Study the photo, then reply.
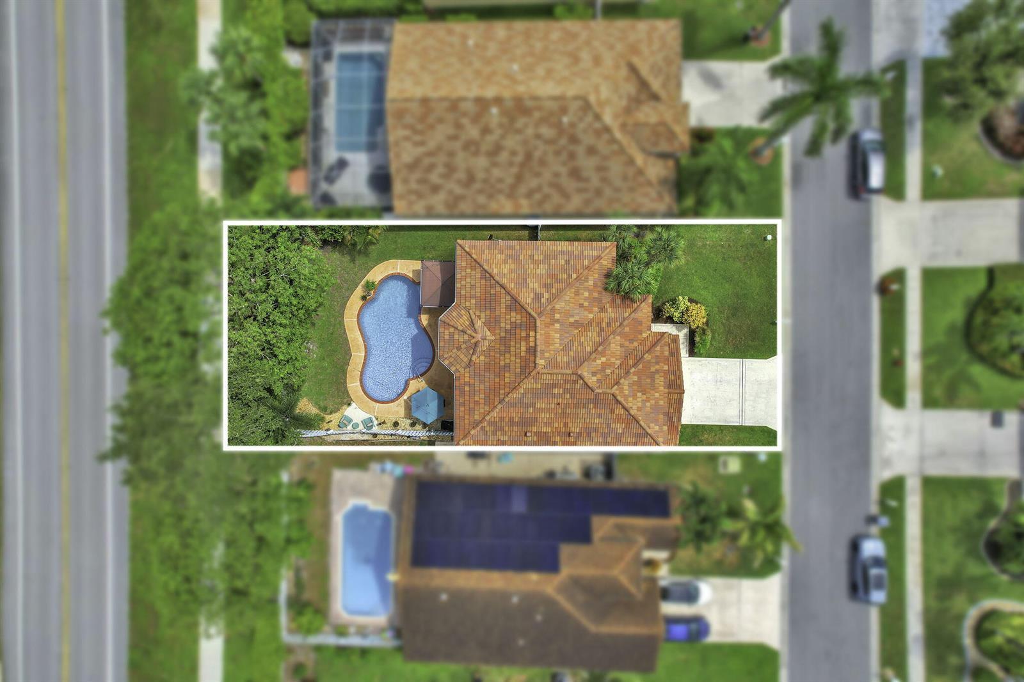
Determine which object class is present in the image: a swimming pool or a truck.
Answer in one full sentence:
The image shows a swimming pool.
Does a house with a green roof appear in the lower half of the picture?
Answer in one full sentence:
No, in the lower half of the picture there is no house with a green roof.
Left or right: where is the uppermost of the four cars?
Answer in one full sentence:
It is on the right.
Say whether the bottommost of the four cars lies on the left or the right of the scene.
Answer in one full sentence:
The bottommost of the four cars appears in the right half of the scene.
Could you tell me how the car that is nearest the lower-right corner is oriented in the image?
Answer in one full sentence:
In this picture, the car that is nearest the lower-right corner is oriented from top to bottom.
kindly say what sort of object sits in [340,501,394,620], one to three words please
swimming pool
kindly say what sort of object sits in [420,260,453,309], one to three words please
gazebo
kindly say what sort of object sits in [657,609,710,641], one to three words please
car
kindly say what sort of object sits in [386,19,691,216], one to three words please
house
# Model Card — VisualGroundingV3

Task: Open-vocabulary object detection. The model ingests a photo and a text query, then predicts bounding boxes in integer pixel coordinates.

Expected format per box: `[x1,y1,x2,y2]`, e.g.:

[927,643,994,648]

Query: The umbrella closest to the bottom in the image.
[411,386,445,425]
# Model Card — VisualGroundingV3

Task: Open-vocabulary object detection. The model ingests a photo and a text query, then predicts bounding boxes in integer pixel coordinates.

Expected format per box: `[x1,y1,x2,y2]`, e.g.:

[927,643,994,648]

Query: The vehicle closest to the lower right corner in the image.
[850,532,884,601]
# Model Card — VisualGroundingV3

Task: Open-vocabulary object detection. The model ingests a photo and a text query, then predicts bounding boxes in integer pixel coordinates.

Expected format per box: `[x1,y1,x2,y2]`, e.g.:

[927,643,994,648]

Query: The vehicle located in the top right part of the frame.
[850,130,885,198]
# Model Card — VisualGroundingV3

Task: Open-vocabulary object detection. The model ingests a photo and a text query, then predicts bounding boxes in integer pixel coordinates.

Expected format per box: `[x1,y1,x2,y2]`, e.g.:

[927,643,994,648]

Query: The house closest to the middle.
[436,238,686,452]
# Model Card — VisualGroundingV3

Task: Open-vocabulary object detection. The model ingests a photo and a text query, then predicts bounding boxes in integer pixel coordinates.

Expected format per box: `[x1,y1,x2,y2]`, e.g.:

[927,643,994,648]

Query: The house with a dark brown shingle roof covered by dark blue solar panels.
[395,480,682,671]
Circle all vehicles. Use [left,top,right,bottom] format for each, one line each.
[652,576,711,609]
[657,609,710,641]
[850,532,884,601]
[850,130,885,198]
